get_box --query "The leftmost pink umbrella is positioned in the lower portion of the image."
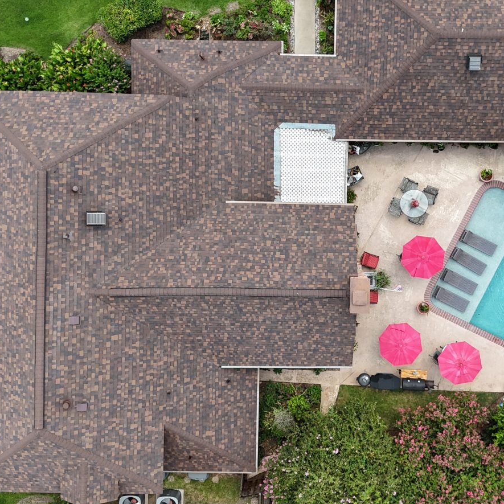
[377,320,421,364]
